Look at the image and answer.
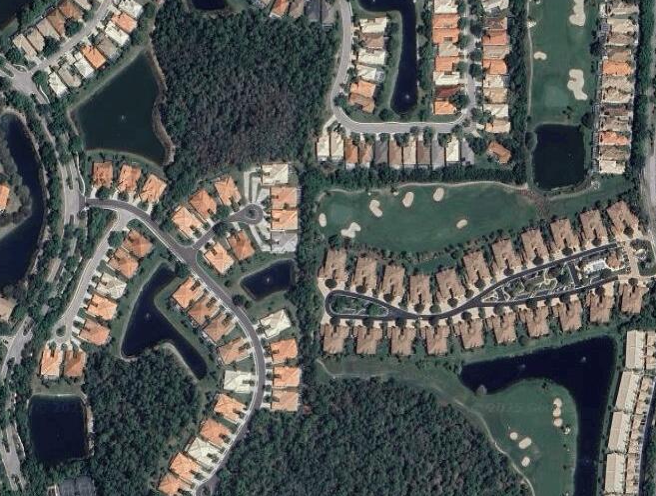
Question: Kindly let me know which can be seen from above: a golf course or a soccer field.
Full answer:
I can see a golf course in this picture.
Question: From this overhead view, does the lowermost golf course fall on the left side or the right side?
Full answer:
The lowermost golf course is on the right side of the image.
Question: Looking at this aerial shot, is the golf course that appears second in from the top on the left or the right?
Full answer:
The golf course that appears second in from the top appears in the right half of the scene.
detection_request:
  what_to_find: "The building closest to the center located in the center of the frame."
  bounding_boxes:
[320,248,348,280]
